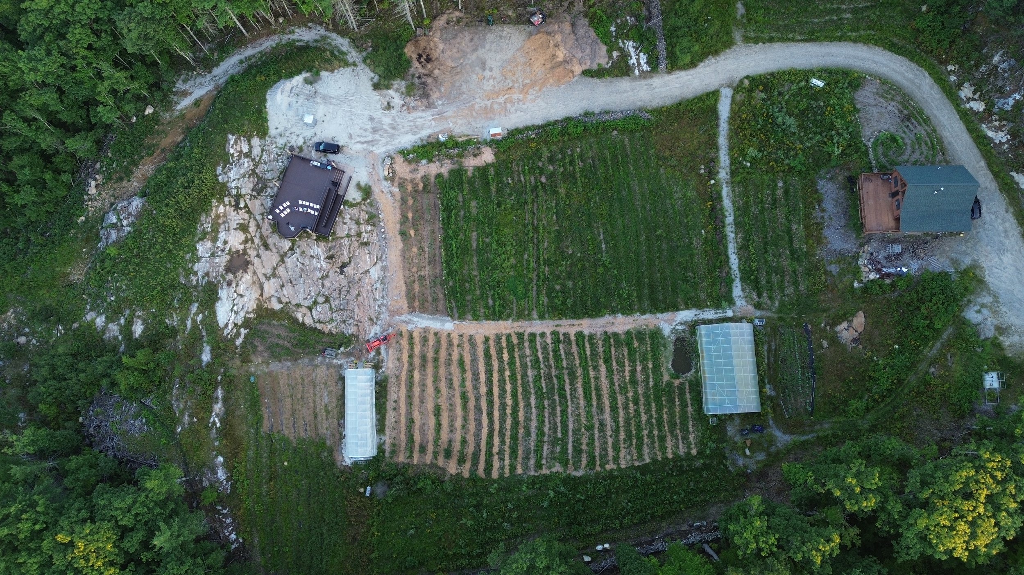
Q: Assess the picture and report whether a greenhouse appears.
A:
Yes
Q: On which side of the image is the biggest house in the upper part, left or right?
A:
right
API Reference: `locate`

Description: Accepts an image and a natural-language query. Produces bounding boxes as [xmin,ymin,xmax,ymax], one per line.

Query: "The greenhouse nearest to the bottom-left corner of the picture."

[343,368,378,477]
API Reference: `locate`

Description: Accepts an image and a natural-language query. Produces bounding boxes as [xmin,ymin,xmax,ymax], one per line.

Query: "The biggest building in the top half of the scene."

[856,165,979,234]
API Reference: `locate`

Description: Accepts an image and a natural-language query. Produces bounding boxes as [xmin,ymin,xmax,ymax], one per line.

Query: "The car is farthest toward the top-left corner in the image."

[313,140,340,154]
